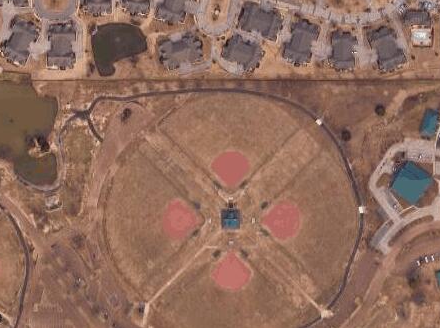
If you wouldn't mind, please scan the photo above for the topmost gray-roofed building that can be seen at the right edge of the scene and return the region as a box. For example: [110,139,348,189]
[405,11,430,24]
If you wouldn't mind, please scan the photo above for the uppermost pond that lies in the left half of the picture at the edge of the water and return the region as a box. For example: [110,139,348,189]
[93,23,146,74]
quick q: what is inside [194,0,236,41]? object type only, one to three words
roundabout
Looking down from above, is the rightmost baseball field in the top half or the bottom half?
bottom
